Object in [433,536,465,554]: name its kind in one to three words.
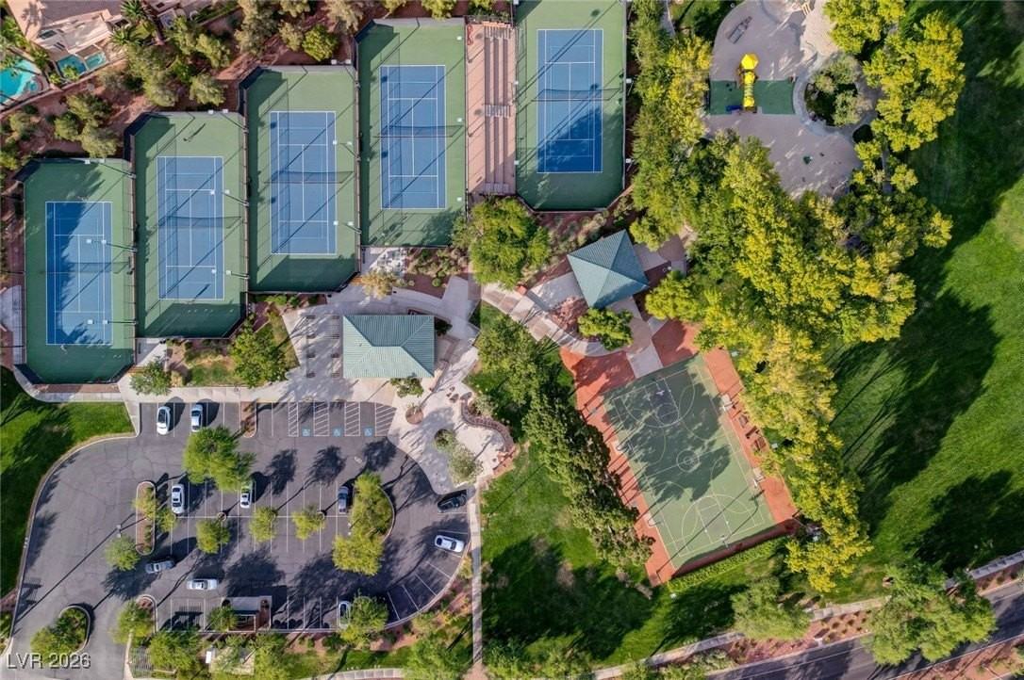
car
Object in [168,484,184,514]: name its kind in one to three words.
car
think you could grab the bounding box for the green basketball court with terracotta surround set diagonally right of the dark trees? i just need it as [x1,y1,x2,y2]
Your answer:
[561,319,801,586]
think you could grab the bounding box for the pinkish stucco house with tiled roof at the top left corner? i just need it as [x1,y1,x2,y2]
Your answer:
[12,0,131,61]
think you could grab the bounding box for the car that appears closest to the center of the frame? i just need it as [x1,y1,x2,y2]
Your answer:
[437,493,468,513]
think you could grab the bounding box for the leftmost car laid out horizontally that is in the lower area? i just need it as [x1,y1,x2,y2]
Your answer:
[143,559,174,576]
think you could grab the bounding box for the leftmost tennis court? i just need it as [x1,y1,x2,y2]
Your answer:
[23,160,130,381]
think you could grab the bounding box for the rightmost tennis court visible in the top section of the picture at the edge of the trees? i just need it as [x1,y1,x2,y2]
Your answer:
[516,0,626,210]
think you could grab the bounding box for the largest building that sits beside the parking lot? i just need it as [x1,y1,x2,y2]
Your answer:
[342,315,435,379]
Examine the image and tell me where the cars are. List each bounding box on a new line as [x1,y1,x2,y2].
[237,480,252,511]
[154,406,170,435]
[337,601,350,631]
[437,493,468,513]
[185,579,216,594]
[335,484,349,514]
[168,484,184,514]
[143,559,174,576]
[187,404,202,434]
[433,536,465,554]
